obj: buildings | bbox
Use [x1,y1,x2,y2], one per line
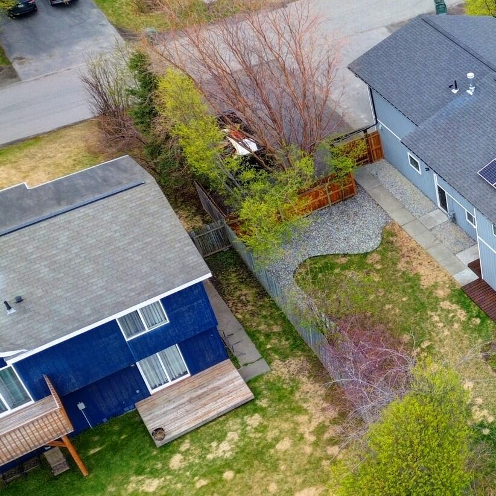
[0,154,231,480]
[293,15,496,287]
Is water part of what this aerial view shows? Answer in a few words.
No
